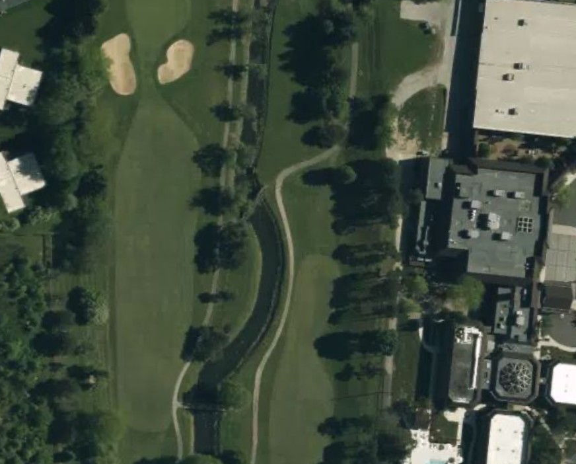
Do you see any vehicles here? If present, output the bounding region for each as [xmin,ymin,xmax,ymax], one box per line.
[417,150,429,155]
[420,21,431,33]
